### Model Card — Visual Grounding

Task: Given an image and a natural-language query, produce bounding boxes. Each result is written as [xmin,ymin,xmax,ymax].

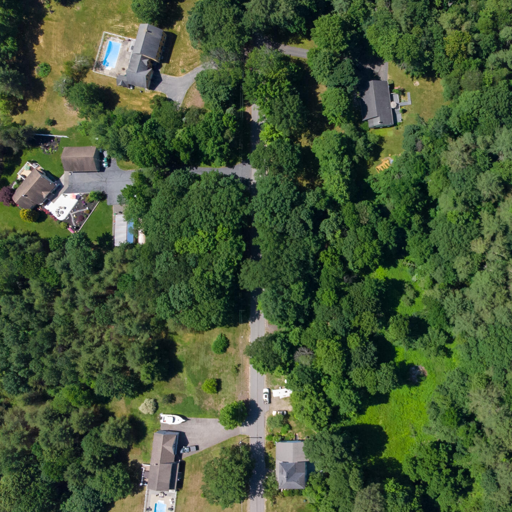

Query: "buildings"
[358,79,412,129]
[140,430,182,492]
[115,23,166,89]
[11,162,59,213]
[61,146,99,171]
[276,434,310,490]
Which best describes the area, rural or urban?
rural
